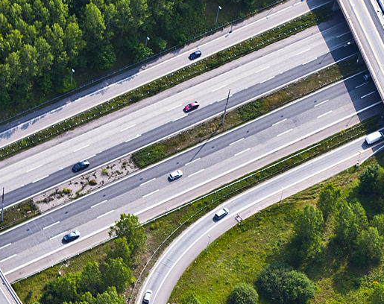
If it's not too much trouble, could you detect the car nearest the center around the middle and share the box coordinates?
[167,170,185,182]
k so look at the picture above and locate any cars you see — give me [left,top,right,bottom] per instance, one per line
[72,160,90,173]
[167,170,185,182]
[62,232,81,243]
[187,49,205,61]
[213,209,230,222]
[143,291,152,304]
[184,102,200,113]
